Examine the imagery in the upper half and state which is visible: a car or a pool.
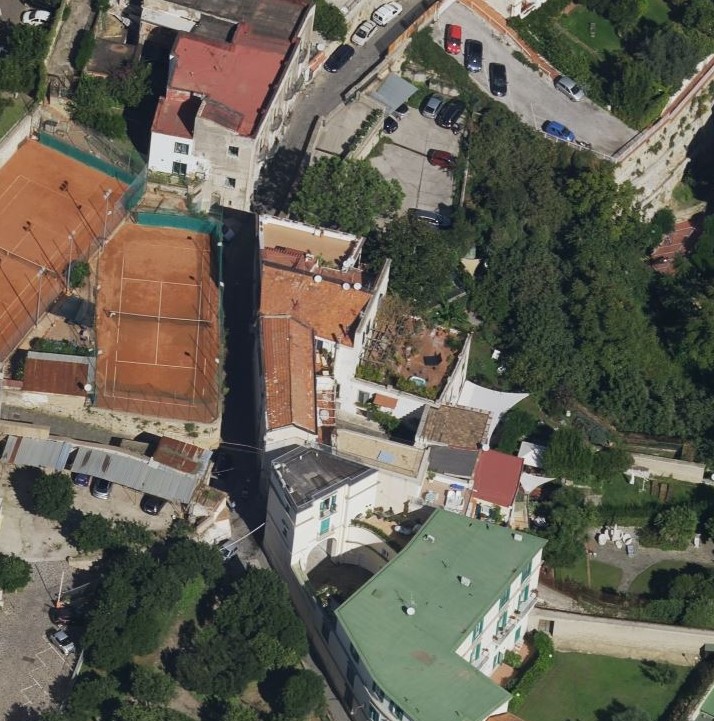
car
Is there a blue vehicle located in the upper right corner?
Yes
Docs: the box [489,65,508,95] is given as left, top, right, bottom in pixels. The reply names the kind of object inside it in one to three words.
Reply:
car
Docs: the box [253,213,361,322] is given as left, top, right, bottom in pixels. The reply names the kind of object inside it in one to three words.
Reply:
house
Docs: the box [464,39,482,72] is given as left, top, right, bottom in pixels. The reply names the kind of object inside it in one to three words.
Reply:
car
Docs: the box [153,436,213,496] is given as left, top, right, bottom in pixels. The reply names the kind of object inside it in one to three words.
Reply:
shed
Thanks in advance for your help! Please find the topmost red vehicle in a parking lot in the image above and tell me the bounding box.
[444,25,462,54]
